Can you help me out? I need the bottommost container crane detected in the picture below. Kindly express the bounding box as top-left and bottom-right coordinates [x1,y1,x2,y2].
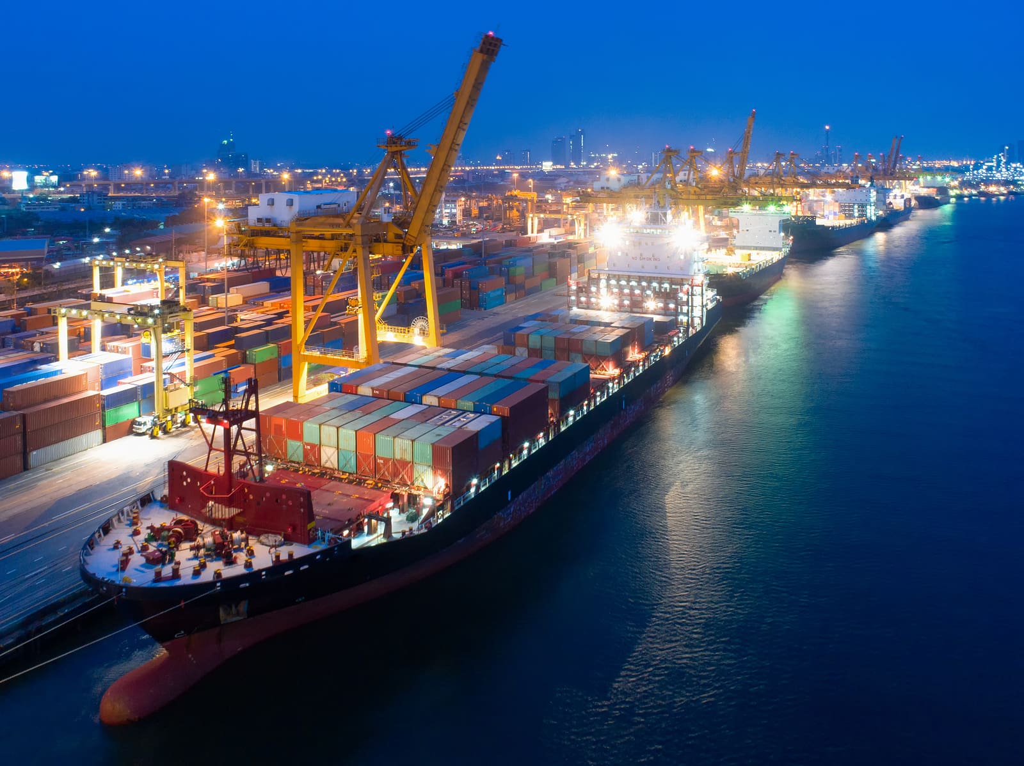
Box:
[49,292,213,441]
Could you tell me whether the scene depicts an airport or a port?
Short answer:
port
